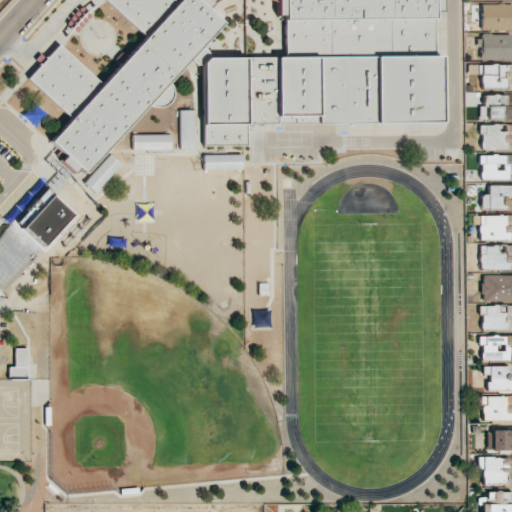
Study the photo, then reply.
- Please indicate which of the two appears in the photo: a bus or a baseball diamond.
baseball diamond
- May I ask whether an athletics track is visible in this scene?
Yes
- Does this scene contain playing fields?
Yes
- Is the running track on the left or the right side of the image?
right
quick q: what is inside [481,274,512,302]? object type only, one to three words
house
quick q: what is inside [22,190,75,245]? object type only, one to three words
building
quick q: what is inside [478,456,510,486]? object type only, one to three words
house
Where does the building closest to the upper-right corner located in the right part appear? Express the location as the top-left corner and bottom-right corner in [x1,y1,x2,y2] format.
[482,3,512,31]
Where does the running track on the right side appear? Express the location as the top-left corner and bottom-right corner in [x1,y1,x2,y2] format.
[284,164,454,500]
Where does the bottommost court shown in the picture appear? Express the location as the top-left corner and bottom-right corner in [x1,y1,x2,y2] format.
[0,384,31,461]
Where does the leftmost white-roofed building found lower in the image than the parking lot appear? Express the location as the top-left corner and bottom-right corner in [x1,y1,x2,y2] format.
[10,346,30,379]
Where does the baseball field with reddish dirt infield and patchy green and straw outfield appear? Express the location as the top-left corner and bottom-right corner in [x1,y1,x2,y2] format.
[50,258,283,492]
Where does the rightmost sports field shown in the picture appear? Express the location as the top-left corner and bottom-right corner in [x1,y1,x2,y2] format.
[298,177,442,487]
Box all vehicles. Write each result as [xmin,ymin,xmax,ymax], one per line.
[19,27,28,36]
[0,148,9,156]
[6,152,14,160]
[26,20,34,28]
[44,0,52,8]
